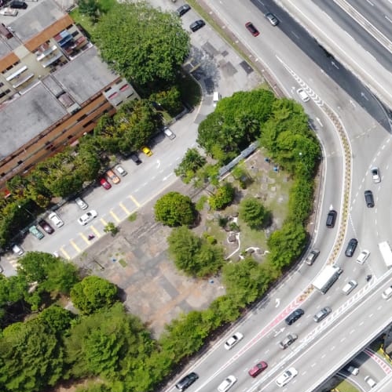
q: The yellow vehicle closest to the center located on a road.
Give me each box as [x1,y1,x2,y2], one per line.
[140,144,154,158]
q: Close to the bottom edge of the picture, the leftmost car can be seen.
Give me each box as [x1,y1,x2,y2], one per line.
[175,373,198,392]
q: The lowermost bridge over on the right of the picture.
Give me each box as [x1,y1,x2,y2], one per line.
[328,341,392,392]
